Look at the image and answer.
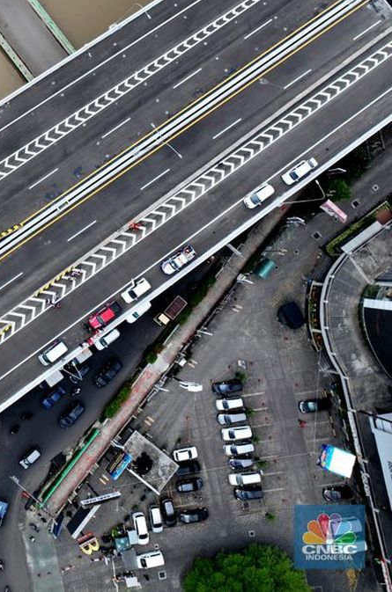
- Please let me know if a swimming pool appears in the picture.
No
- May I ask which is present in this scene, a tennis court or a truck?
truck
